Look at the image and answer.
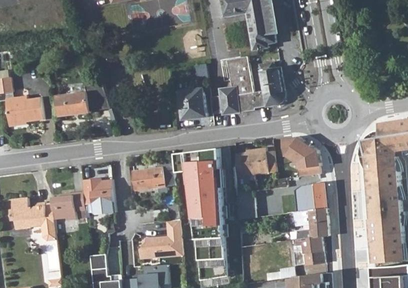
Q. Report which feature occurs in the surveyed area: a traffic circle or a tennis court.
traffic circle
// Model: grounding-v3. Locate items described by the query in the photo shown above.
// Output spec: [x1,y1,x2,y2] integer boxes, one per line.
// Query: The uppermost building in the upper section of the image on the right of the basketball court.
[220,0,282,49]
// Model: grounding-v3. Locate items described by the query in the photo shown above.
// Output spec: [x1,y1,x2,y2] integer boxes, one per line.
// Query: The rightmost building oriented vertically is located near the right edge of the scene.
[360,133,408,264]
